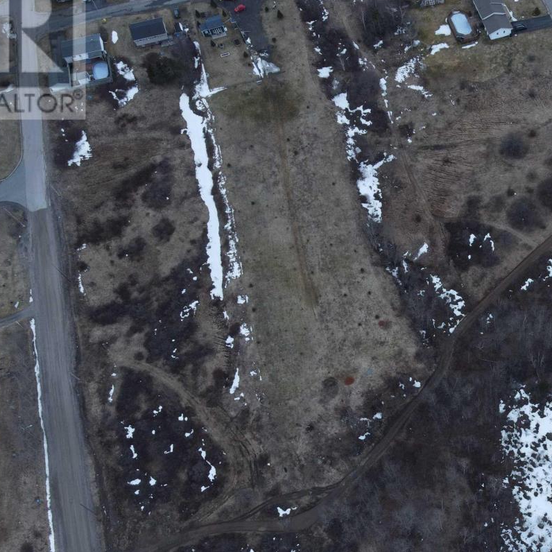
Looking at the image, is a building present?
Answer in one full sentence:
Yes, a building appears in the view.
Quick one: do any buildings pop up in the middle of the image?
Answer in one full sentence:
No, there is no building in the middle of the image.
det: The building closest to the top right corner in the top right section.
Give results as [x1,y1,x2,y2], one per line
[475,0,513,43]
